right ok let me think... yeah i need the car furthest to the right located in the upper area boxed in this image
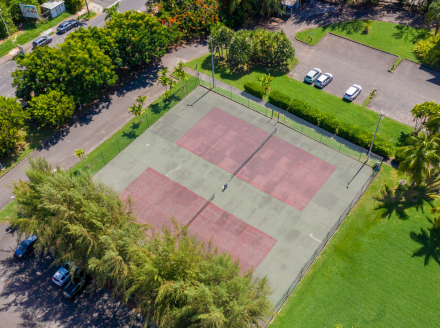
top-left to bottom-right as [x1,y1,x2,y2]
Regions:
[342,84,361,100]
